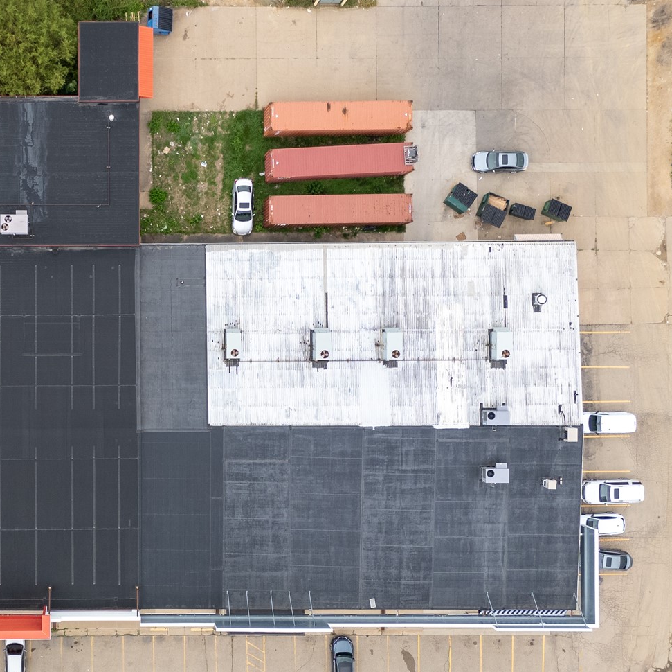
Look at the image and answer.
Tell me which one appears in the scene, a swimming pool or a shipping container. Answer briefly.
shipping container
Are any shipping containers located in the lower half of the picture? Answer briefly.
No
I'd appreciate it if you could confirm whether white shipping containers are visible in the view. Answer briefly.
No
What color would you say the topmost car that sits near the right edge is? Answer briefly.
white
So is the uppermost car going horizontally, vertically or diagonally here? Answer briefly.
horizontally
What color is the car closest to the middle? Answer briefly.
white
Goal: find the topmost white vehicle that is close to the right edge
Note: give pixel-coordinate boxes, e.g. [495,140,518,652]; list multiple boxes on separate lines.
[583,411,640,436]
